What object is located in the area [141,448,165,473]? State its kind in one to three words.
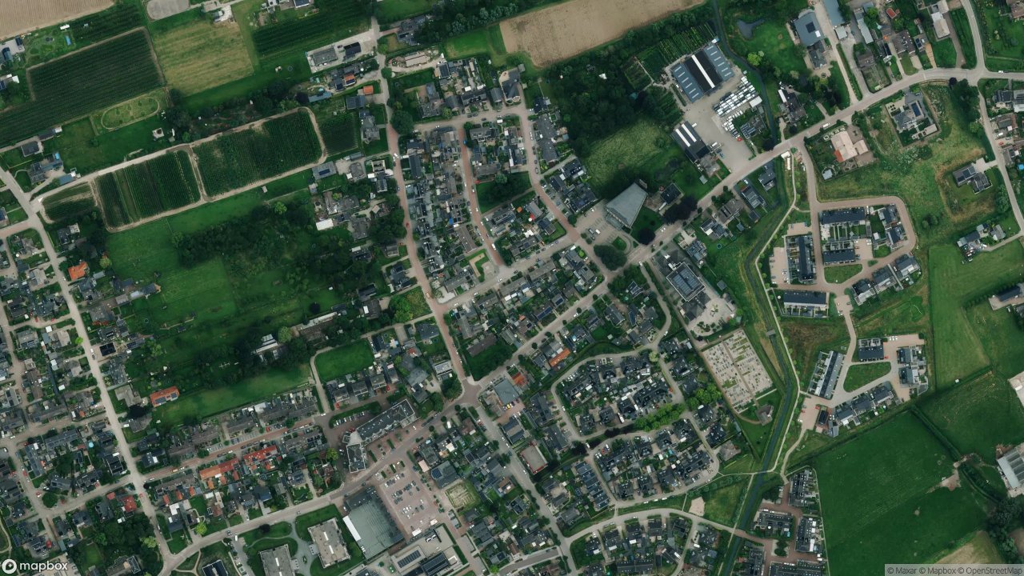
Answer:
house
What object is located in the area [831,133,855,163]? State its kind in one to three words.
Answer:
house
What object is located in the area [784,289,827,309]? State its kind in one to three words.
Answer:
building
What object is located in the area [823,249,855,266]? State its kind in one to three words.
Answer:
building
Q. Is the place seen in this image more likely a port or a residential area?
residential area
